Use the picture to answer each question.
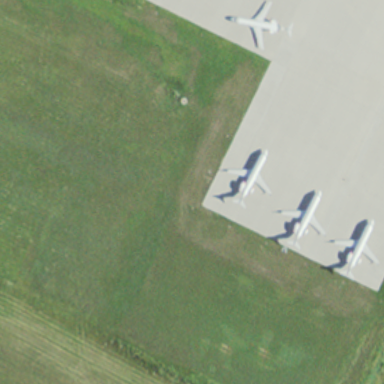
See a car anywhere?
No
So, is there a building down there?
No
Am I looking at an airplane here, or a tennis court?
airplane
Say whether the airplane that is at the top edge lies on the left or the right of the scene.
right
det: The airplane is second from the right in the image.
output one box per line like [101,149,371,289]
[282,191,326,248]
